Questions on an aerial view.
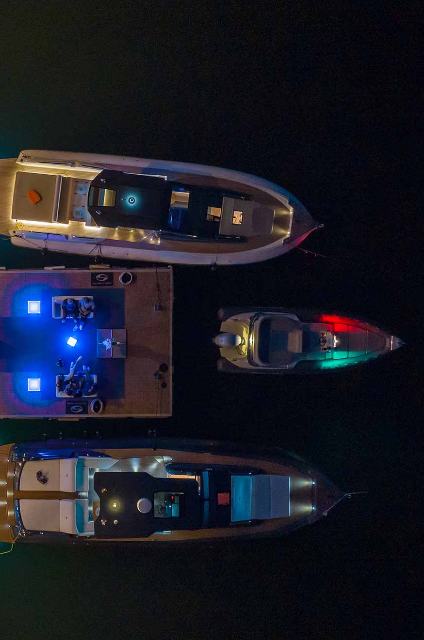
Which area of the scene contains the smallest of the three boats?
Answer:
right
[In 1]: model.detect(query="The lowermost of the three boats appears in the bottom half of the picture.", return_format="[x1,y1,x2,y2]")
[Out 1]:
[0,438,351,548]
